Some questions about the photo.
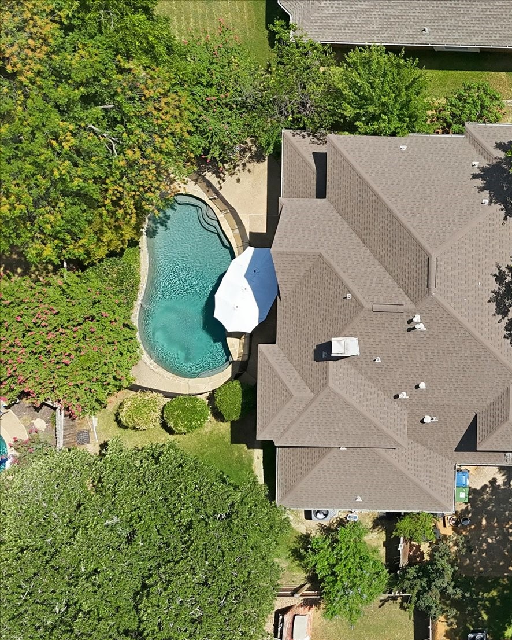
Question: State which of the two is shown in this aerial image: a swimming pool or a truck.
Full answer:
I can see a swimming pool in this picture.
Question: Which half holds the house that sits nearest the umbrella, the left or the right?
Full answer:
The house that sits nearest the umbrella is on the right side of the image.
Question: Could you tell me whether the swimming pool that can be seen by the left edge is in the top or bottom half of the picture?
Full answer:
The swimming pool that can be seen by the left edge sits in the bottom half of the picture.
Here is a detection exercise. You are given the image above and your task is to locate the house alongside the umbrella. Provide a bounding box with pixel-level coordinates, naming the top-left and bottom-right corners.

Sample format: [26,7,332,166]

[254,122,512,514]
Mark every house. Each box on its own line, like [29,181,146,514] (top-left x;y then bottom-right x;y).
[280,0,512,60]
[254,122,512,514]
